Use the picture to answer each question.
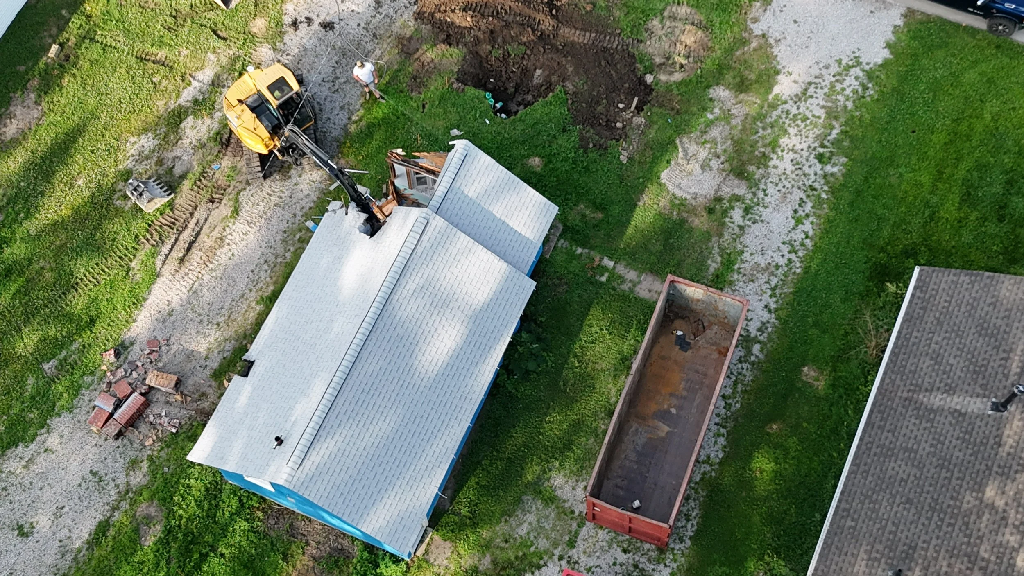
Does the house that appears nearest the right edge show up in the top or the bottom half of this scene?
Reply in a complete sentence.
The house that appears nearest the right edge is in the bottom half of the image.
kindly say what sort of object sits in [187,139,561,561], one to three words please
house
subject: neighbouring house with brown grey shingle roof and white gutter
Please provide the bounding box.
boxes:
[803,264,1024,576]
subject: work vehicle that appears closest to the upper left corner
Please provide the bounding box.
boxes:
[225,63,383,238]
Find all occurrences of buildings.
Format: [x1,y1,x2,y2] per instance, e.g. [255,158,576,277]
[187,139,561,561]
[803,264,1024,576]
[0,0,32,41]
